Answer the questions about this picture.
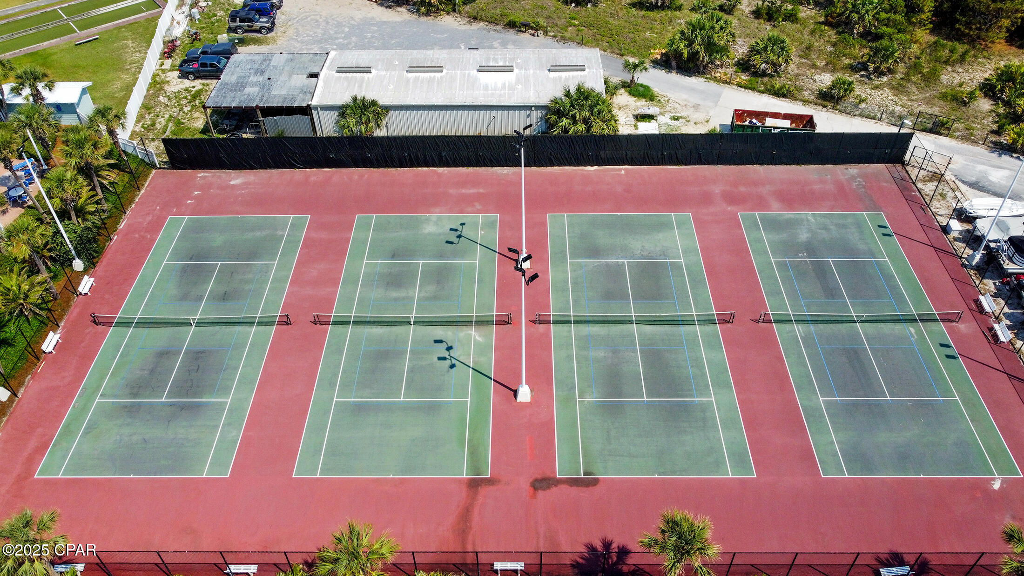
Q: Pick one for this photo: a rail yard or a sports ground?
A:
sports ground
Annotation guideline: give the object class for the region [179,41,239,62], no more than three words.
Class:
truck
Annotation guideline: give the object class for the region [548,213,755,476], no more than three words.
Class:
tennis court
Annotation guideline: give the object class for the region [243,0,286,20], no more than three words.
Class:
car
